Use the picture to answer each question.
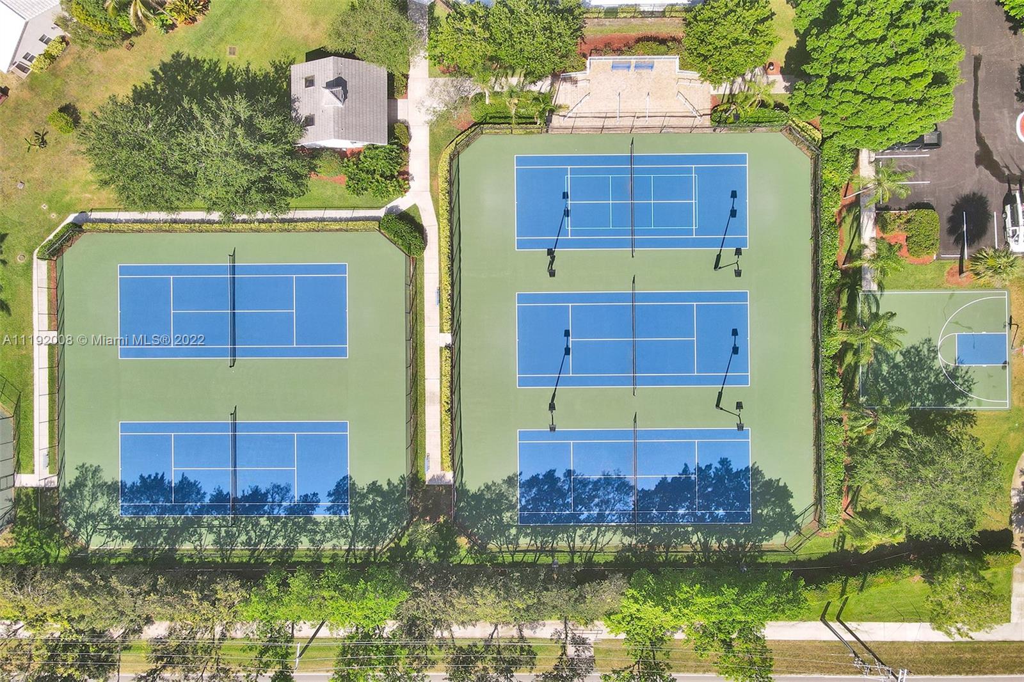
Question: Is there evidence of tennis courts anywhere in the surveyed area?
Yes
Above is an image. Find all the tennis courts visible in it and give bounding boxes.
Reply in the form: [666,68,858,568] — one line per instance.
[120,421,349,517]
[517,291,750,388]
[119,263,348,359]
[516,153,748,250]
[518,428,751,525]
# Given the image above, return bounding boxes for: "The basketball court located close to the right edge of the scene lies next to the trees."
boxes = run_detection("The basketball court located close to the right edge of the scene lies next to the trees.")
[856,287,1013,411]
